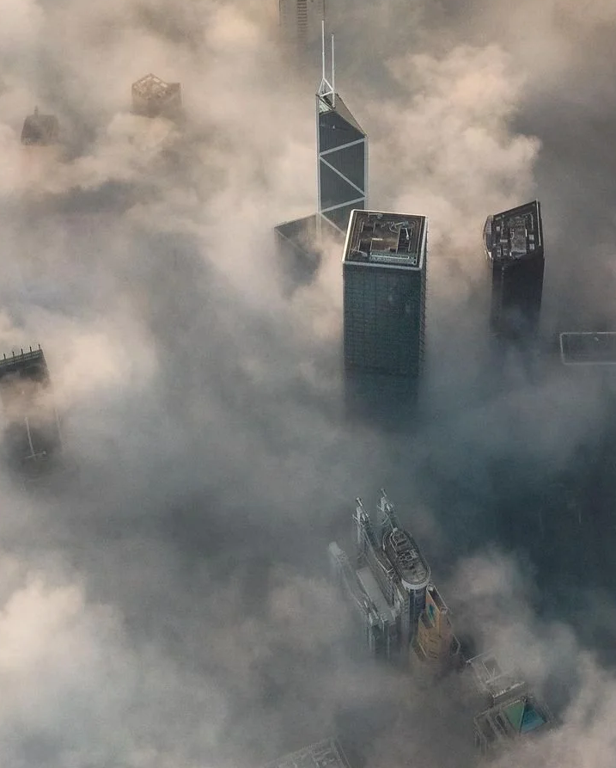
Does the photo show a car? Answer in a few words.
No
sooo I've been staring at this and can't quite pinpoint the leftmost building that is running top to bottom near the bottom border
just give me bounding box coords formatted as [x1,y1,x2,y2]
[330,488,400,767]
